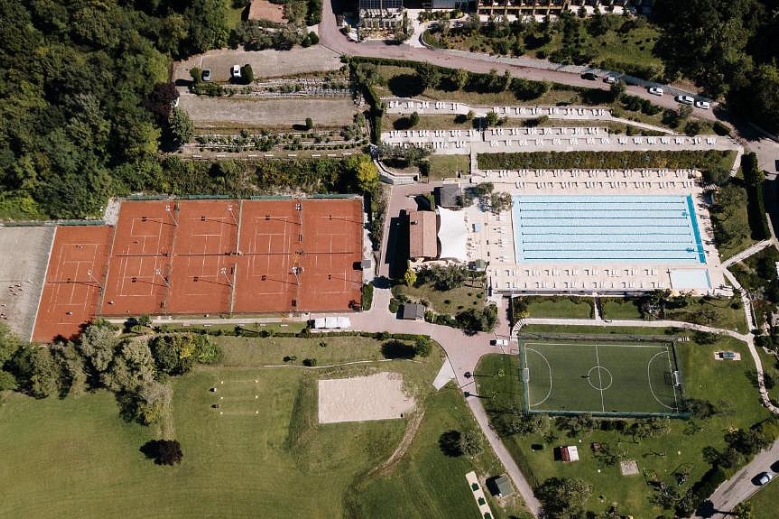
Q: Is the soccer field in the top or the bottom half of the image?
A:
bottom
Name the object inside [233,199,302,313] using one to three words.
tennis court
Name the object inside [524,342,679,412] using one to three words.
soccer field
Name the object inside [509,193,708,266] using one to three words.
swimming pool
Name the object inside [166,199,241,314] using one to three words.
tennis court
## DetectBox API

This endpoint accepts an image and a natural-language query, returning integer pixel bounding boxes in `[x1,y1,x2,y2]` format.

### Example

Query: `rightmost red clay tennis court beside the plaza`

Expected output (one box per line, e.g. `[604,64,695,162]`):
[297,199,363,312]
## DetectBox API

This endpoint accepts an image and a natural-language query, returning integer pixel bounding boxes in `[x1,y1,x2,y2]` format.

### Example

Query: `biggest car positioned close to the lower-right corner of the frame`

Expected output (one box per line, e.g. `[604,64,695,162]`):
[756,470,776,487]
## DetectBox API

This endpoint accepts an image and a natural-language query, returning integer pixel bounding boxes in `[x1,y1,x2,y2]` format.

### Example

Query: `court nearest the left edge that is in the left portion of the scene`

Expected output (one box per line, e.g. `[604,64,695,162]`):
[0,226,56,344]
